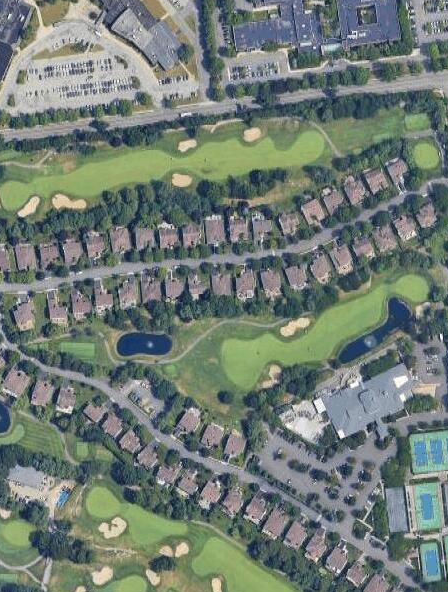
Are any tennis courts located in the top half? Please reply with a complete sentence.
No, I can find no tennis court in the top half.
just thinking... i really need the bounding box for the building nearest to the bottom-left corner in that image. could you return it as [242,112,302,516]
[7,464,43,486]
